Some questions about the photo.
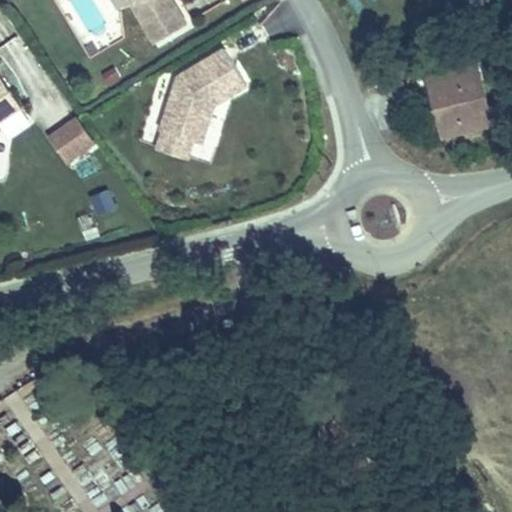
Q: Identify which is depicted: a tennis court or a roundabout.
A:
roundabout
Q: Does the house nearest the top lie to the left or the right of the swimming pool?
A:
to its right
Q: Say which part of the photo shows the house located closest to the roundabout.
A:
top right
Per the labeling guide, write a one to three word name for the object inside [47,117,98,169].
building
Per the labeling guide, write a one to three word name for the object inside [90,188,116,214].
shed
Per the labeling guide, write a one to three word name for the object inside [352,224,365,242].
vehicle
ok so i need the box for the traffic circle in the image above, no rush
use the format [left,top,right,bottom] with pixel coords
[334,167,434,267]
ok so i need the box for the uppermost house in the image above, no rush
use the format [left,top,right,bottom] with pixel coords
[120,0,194,48]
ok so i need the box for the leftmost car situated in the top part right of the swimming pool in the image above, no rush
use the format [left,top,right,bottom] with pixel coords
[238,34,256,48]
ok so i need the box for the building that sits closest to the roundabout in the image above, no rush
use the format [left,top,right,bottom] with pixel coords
[428,64,492,142]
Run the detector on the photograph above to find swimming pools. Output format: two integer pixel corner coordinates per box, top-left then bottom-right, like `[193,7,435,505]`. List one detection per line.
[54,0,126,58]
